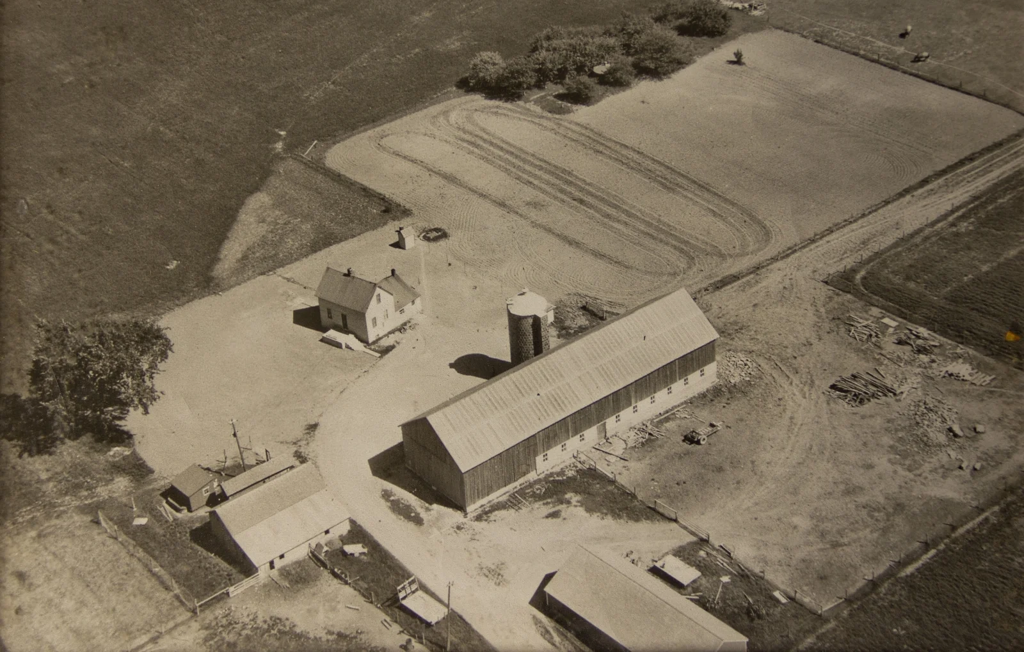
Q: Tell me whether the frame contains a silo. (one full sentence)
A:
Yes, the picture does show a silo.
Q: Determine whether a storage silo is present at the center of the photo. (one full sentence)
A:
Yes, a storage silo is visible at the center of the photo.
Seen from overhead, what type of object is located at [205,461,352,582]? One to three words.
barn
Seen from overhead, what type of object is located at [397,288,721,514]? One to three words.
barn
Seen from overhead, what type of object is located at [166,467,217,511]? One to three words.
shed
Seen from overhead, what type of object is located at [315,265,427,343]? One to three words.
house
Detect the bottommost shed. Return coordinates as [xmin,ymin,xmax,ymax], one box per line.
[543,545,749,652]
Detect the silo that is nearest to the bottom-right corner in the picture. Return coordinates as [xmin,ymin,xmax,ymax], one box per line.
[505,289,557,371]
